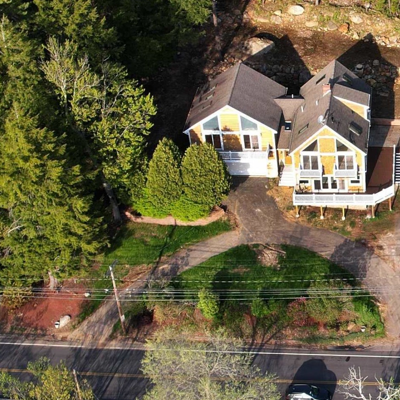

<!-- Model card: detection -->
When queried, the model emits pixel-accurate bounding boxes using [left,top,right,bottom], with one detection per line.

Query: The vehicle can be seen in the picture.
[284,380,332,400]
